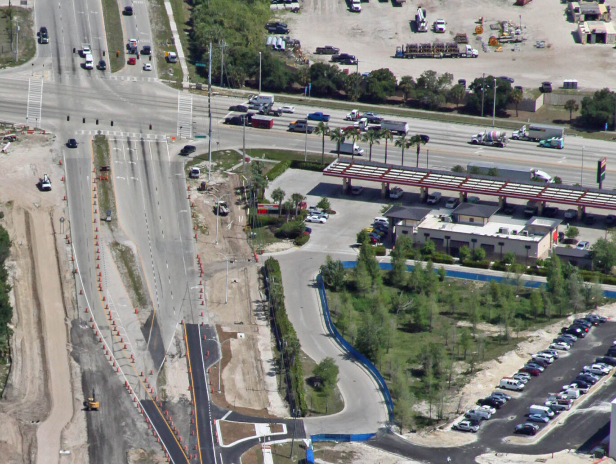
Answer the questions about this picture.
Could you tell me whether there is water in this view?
No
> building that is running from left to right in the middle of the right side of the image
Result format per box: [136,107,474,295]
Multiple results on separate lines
[388,194,561,262]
